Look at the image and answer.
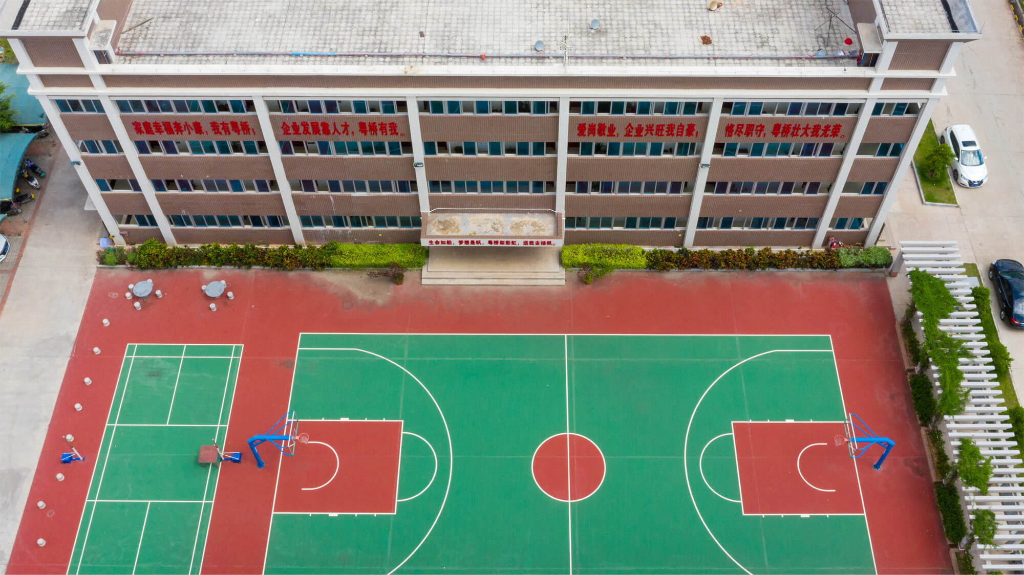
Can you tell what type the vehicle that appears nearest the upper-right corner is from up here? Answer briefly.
car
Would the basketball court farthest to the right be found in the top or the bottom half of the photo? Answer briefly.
bottom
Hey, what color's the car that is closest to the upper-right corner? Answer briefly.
white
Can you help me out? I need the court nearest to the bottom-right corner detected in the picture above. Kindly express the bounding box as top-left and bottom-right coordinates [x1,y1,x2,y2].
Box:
[263,334,876,575]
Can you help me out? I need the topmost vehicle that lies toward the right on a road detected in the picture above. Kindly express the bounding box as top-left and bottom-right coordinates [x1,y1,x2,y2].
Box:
[943,119,993,188]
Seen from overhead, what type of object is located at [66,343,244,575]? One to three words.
sports court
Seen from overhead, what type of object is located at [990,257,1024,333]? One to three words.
car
